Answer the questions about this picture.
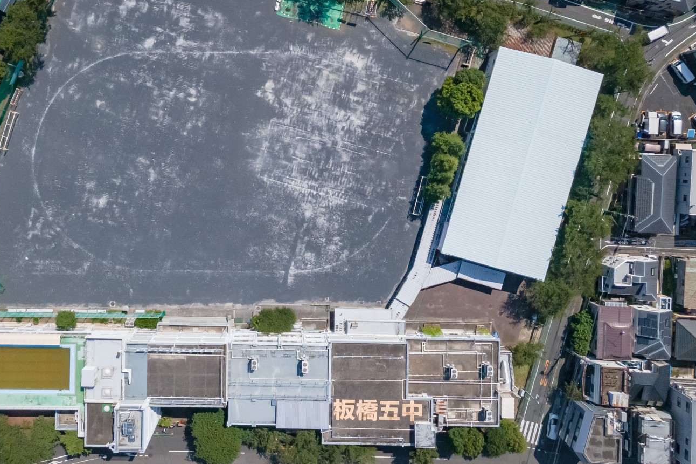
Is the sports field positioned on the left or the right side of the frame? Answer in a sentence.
The sports field appears in the left half of the scene.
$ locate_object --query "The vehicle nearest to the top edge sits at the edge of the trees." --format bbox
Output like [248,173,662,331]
[645,22,670,40]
